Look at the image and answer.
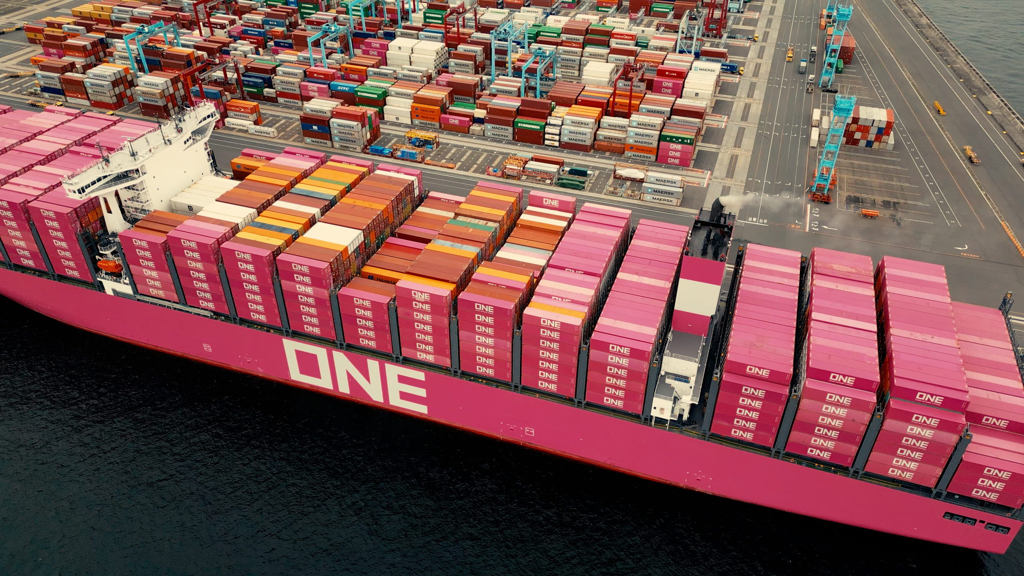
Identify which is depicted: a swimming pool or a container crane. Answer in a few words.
container crane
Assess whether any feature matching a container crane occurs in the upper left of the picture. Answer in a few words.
Yes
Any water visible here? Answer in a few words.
Yes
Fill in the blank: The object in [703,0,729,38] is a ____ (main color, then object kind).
red container crane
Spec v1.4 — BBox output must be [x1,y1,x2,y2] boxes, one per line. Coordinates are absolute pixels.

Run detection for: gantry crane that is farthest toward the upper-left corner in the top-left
[122,20,185,81]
